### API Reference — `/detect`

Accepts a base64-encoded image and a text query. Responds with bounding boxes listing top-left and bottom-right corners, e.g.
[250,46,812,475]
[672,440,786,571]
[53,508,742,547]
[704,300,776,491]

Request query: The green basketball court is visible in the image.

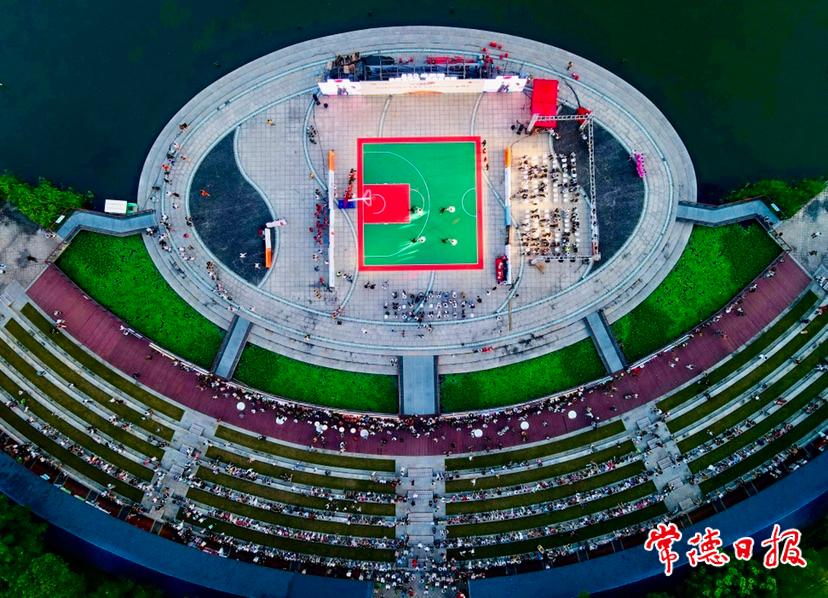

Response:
[357,137,483,271]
